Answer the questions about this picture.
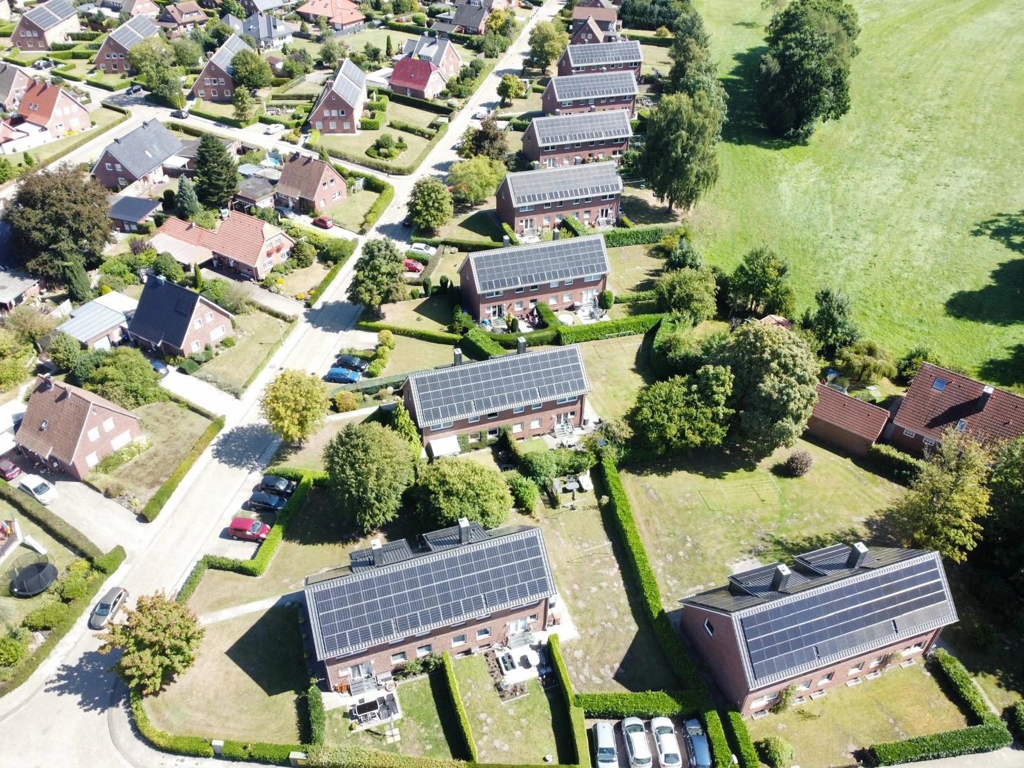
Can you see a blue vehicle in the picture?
Yes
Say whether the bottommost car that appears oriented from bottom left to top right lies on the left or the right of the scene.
left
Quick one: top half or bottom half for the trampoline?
bottom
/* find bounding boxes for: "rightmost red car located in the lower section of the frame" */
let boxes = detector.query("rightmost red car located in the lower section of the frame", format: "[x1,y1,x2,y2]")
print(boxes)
[228,519,271,541]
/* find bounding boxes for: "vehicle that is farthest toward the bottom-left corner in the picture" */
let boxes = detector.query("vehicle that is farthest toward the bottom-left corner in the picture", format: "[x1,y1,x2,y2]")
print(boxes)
[89,585,129,627]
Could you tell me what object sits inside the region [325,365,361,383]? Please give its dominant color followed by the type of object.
blue car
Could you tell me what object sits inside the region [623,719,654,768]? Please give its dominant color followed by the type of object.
white car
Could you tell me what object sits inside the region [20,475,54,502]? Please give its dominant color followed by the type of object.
white car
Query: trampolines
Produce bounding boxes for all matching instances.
[0,553,57,603]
